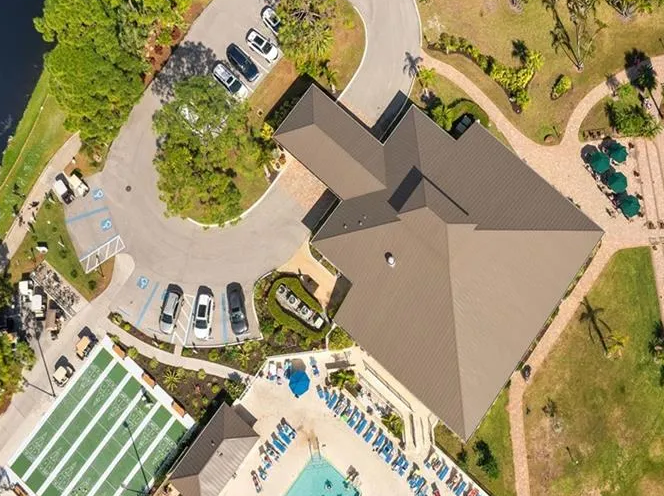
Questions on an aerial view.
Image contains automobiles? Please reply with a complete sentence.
Yes, an automobile is visible in the scene.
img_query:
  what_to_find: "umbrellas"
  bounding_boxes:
[608,171,628,193]
[590,151,610,174]
[620,194,640,217]
[609,142,629,165]
[289,370,310,395]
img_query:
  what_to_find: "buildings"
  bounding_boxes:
[273,83,603,442]
[169,402,259,496]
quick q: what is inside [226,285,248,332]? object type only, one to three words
car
